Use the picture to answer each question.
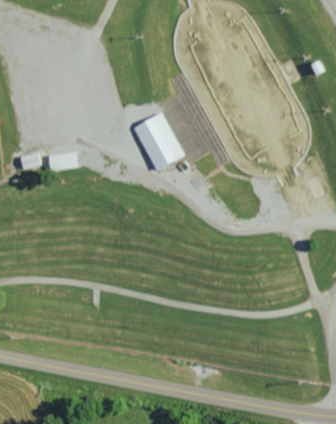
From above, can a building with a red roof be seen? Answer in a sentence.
No, there is no building with a red roof in the image.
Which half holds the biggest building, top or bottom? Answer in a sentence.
The biggest building sits in the top half of the picture.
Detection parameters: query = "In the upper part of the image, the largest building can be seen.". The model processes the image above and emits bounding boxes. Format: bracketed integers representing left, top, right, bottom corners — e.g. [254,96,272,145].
[135,112,186,171]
